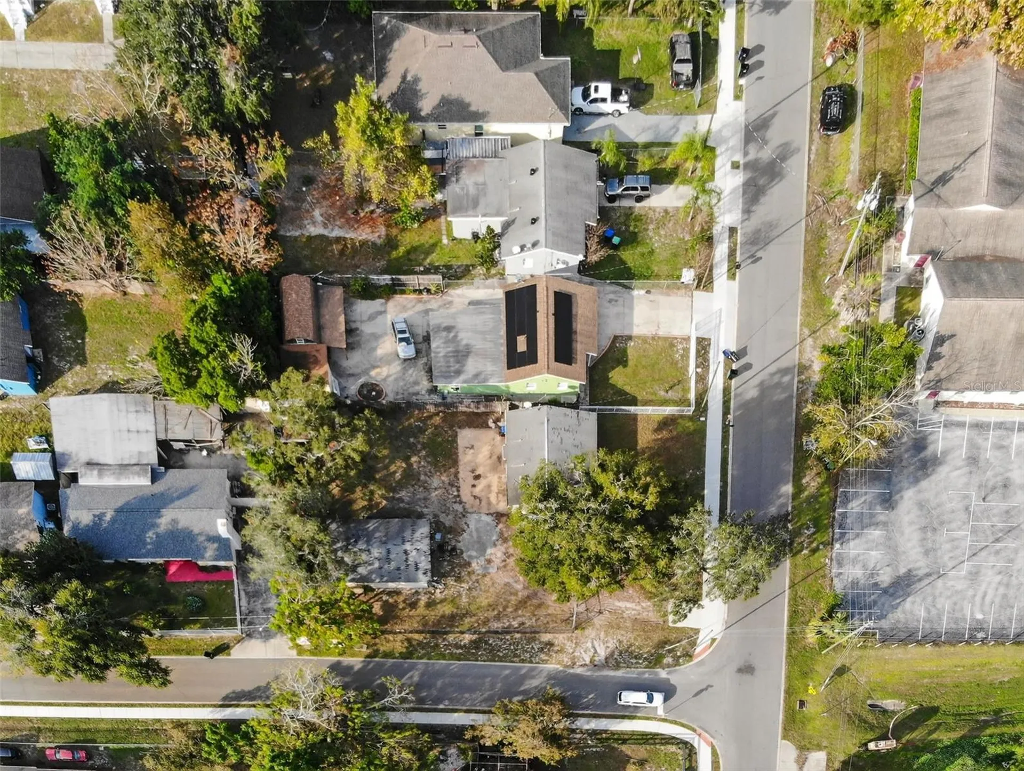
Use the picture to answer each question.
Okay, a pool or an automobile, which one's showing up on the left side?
automobile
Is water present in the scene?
No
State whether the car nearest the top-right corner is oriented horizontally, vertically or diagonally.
vertically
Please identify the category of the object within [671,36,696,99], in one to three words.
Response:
truck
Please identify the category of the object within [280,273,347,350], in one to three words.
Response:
shed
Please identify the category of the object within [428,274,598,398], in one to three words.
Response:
house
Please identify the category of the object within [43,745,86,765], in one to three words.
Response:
car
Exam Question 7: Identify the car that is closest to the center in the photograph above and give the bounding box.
[391,314,417,362]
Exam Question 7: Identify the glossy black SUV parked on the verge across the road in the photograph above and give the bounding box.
[820,85,847,138]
